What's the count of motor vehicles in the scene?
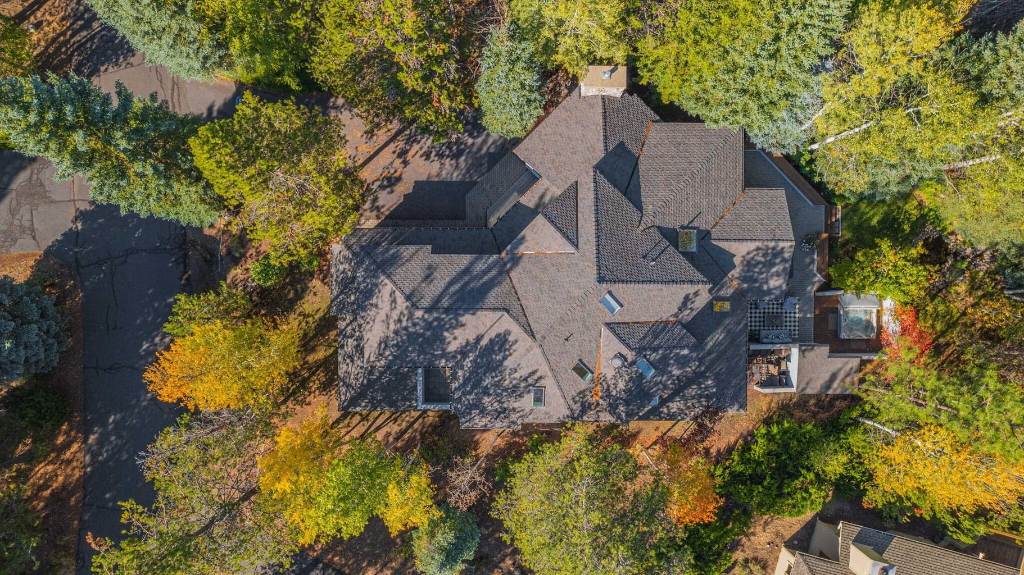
0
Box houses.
[773,515,1022,575]
[329,67,794,431]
